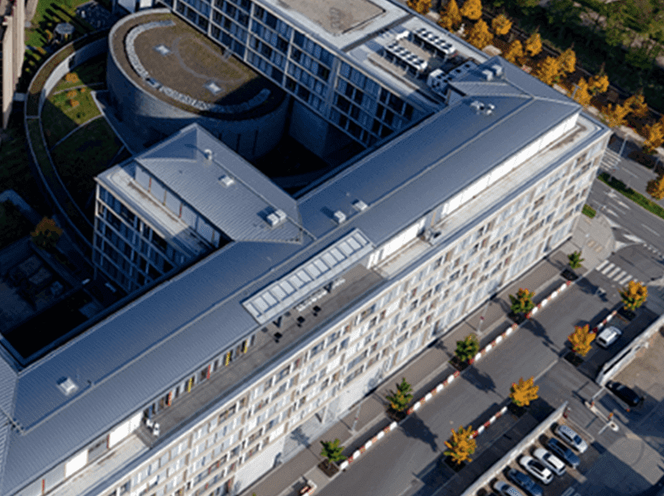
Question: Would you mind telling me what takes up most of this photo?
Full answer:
The largest share of the image is taken up by buildings.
